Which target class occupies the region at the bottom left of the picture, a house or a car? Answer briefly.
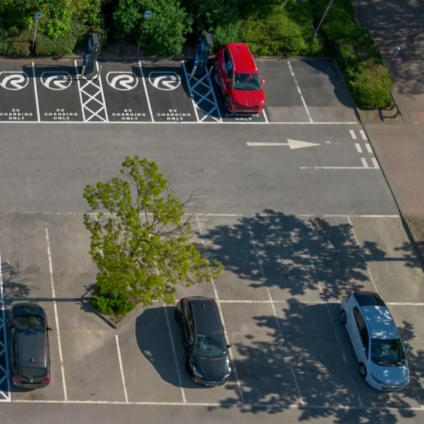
car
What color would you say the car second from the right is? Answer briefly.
red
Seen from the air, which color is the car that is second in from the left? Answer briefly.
black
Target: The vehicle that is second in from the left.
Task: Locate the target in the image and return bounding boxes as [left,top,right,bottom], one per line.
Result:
[179,297,241,389]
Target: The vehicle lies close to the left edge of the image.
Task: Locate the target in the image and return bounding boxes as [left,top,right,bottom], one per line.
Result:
[5,302,57,397]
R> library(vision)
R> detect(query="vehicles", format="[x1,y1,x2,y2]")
[5,302,57,397]
[179,297,241,389]
[345,297,422,392]
[218,42,270,108]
